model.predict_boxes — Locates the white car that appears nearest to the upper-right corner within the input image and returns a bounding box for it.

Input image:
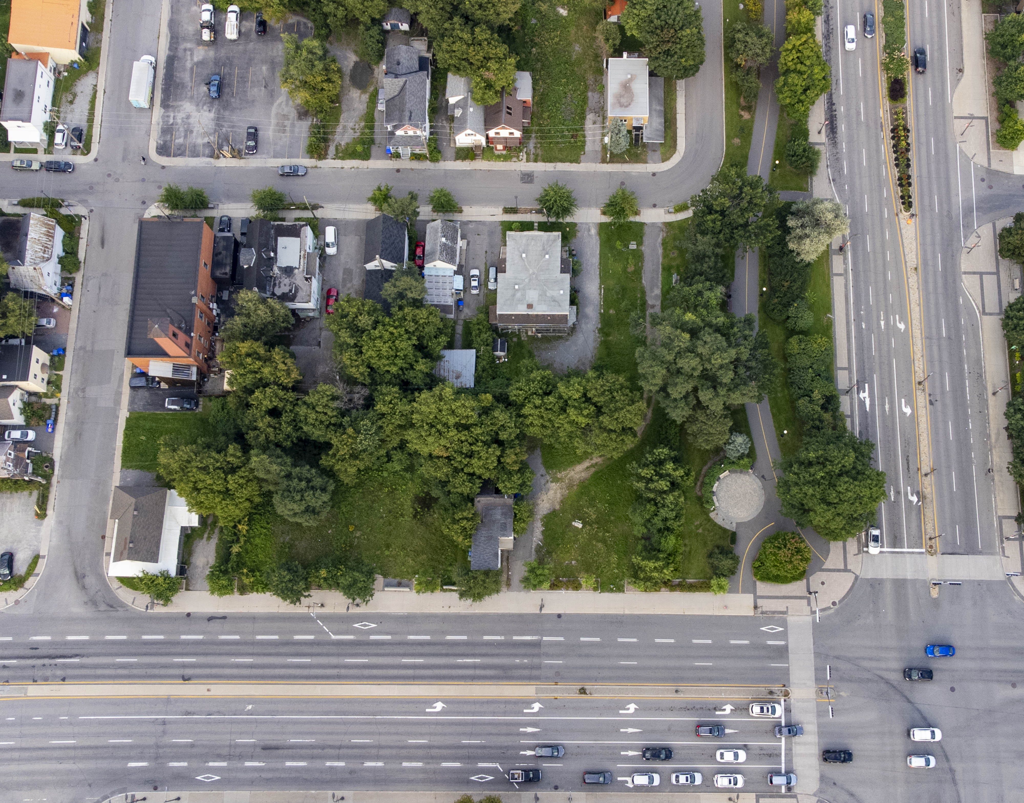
[844,25,858,51]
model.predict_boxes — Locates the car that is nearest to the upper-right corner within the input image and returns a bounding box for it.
[913,48,928,74]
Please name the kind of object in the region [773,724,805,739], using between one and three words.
car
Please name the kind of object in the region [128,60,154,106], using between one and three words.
truck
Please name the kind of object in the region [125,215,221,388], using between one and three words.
building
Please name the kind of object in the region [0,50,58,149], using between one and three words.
house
